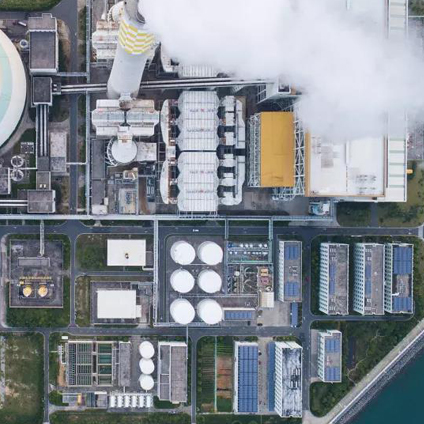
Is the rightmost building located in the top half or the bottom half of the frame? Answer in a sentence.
The rightmost building is in the bottom half of the image.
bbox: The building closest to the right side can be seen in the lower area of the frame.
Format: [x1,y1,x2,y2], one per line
[385,241,413,313]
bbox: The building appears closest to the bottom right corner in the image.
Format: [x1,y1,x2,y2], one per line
[318,331,343,382]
